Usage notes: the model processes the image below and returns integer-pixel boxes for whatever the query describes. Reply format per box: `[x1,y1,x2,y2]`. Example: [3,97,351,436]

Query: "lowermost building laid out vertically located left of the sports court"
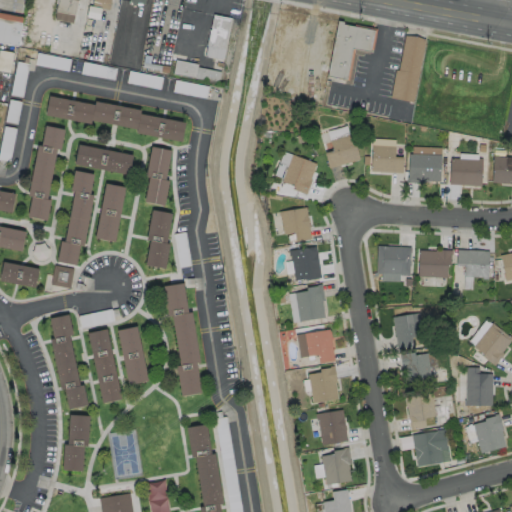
[64,415,90,472]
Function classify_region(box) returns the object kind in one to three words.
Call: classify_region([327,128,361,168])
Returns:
house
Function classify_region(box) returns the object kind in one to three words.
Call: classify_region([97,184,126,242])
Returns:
building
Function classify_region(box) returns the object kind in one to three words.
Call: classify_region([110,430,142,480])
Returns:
sports court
